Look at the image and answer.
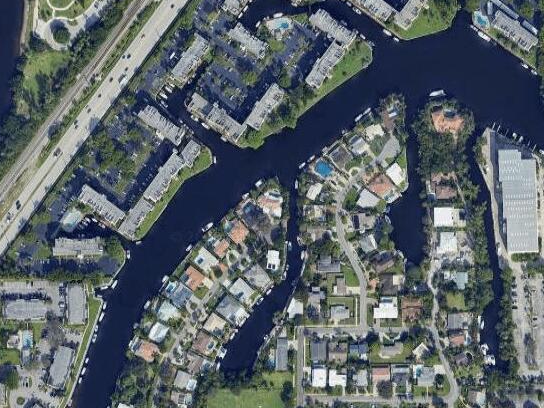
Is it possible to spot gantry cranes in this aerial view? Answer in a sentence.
No, the scene contains no gantry crane.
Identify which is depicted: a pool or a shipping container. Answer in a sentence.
Visible in the photo is a pool.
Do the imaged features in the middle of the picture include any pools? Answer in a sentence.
Yes, you'll find a pool in the middle of the picture.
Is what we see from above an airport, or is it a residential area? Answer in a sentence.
The picture captures a residential area.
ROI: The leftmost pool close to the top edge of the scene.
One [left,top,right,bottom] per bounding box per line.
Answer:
[269,15,296,33]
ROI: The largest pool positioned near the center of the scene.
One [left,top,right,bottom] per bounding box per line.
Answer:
[304,154,340,184]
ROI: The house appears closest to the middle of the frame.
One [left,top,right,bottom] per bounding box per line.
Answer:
[258,193,286,216]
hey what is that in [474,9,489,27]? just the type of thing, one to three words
swimming pool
